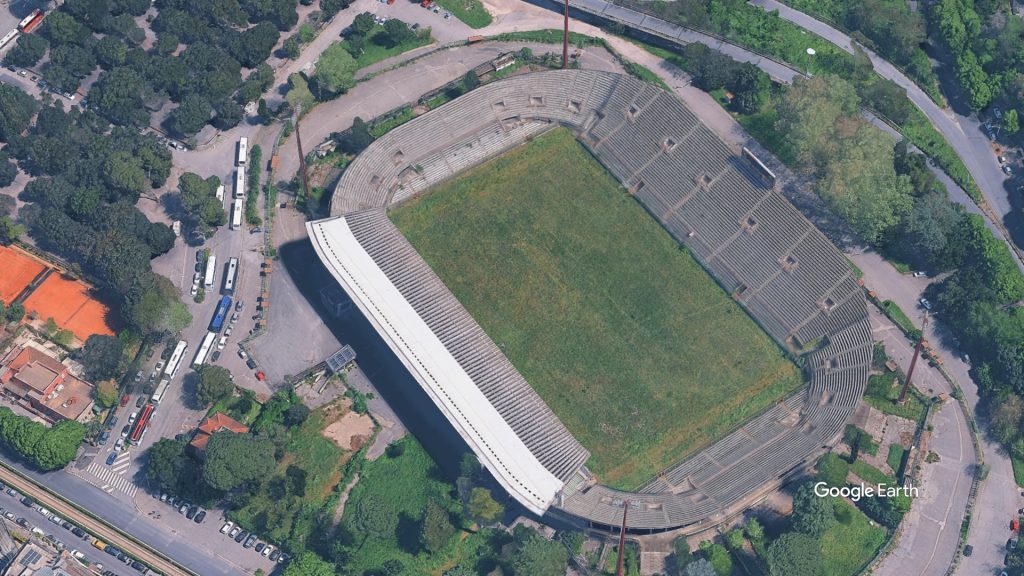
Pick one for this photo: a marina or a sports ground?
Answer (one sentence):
This looks like a sports ground.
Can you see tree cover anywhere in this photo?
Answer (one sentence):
Yes, some tree cover is visible.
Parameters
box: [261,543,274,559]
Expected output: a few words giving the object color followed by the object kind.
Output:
white vehicle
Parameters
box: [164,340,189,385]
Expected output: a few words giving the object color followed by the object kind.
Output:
white bus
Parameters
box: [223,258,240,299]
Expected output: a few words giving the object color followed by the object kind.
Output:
white vehicle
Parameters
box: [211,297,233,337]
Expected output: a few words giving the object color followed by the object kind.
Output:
blue bus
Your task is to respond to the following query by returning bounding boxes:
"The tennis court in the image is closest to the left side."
[0,240,46,305]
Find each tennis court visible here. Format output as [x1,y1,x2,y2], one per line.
[0,240,46,305]
[23,271,116,342]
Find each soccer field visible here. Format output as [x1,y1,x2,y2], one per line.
[389,128,805,490]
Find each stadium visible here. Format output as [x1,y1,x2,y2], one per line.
[306,69,878,554]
